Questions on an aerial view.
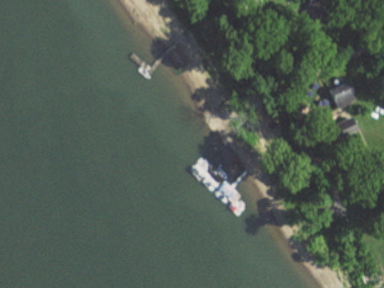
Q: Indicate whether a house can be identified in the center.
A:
No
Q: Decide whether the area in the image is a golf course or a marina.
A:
marina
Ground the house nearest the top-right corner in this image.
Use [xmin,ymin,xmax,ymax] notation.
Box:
[332,82,358,108]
